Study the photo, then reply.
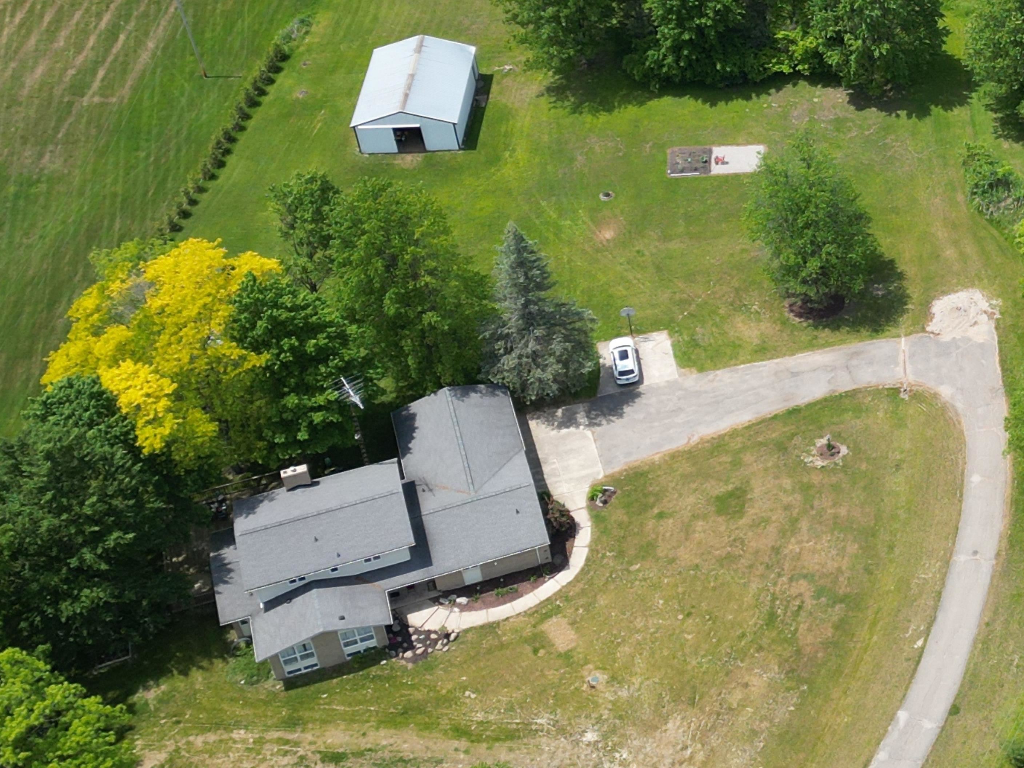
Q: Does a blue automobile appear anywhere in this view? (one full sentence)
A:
No, there's no blue automobile here.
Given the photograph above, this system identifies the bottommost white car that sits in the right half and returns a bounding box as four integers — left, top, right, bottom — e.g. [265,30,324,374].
[608,334,641,383]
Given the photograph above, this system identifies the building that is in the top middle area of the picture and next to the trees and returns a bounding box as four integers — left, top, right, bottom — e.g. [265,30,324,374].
[350,35,476,153]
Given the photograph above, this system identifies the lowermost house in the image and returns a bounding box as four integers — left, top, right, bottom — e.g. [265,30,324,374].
[210,384,550,678]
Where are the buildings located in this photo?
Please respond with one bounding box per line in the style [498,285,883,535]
[350,35,476,153]
[210,384,550,678]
